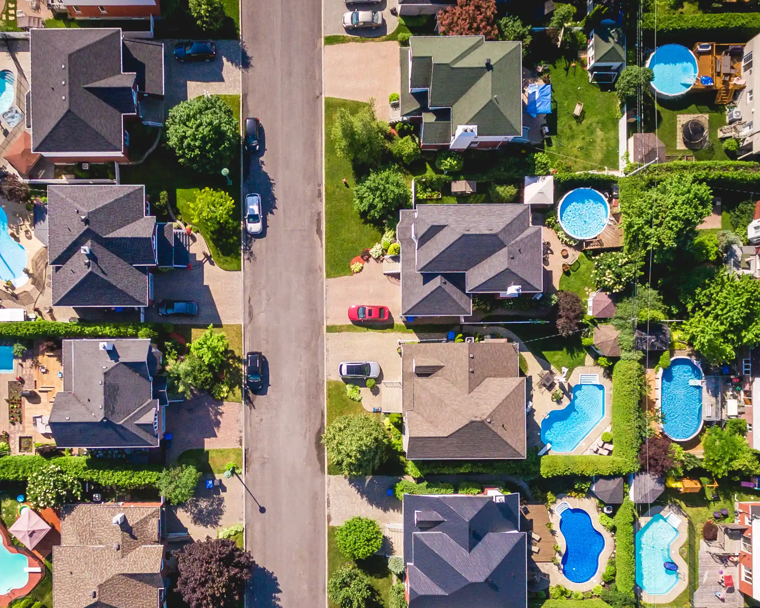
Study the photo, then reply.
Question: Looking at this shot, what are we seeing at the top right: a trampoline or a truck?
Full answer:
The feature located at the top right is a trampoline.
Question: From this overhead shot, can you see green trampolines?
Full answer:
No, the photo shows no green trampoline.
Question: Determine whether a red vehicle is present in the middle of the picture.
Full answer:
Yes, a red vehicle appears in the middle of the picture.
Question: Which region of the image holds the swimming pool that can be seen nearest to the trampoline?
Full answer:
The swimming pool that can be seen nearest to the trampoline is in the top right part of the image.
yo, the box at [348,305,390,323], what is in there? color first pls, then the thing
red car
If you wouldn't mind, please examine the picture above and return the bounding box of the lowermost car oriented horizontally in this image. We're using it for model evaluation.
[338,362,380,378]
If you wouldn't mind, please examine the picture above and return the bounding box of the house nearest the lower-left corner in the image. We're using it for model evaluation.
[53,505,169,608]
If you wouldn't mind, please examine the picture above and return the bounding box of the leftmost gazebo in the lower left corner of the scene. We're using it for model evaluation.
[8,506,56,550]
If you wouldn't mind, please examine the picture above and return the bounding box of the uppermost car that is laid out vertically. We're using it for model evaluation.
[243,118,261,153]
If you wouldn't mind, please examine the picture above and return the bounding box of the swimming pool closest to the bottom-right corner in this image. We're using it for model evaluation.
[632,510,687,598]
